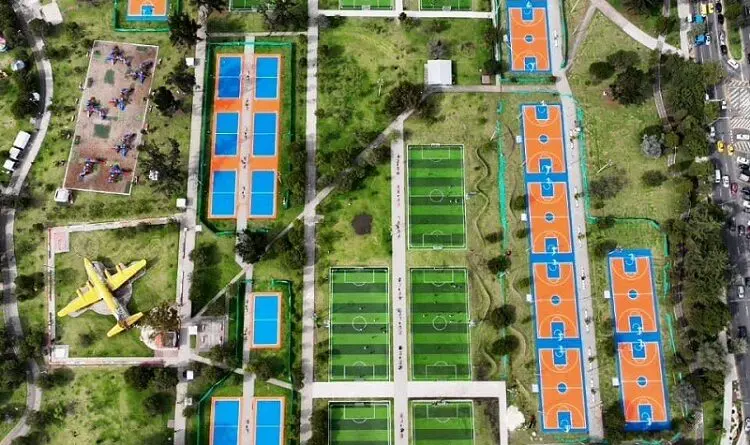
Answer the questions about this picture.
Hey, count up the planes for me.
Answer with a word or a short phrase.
1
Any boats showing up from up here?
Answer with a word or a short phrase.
No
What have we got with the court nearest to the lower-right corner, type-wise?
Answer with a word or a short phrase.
basketball court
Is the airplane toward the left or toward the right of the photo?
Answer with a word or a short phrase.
left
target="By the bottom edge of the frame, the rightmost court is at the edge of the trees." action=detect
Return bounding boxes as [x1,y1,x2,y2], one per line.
[614,337,672,430]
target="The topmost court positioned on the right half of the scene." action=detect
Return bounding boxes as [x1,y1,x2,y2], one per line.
[506,2,553,75]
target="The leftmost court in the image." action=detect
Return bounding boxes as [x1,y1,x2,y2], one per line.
[125,0,170,21]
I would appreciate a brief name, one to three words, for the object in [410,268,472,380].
soccer field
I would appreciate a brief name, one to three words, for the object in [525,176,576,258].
basketball court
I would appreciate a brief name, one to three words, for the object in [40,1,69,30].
building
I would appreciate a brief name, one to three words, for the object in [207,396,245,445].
sports court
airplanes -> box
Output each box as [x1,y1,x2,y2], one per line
[57,258,147,337]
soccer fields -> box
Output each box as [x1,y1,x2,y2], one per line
[330,401,390,445]
[418,0,473,11]
[410,268,472,380]
[413,400,475,445]
[339,0,395,10]
[408,144,466,249]
[330,268,390,381]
